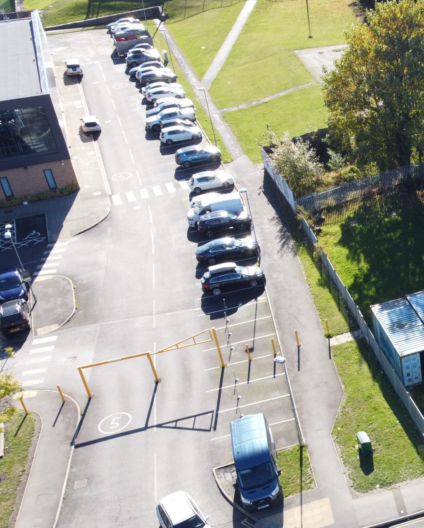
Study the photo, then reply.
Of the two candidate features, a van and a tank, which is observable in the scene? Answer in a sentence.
The one in the frame is a van.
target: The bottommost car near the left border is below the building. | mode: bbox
[0,297,30,336]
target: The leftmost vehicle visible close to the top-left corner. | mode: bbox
[61,61,79,77]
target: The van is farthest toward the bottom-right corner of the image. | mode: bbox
[222,416,290,518]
